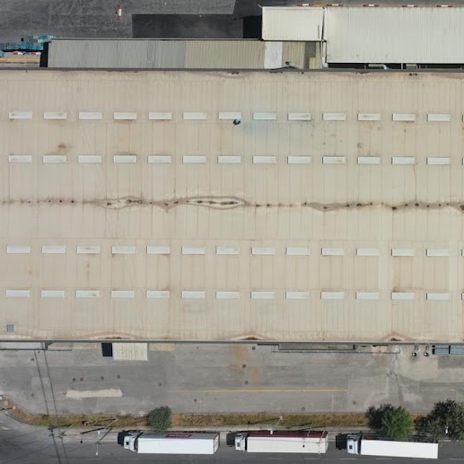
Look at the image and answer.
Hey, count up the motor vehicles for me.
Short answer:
3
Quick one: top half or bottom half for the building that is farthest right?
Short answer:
top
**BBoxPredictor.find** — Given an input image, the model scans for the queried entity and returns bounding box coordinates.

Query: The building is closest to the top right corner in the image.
[323,6,464,65]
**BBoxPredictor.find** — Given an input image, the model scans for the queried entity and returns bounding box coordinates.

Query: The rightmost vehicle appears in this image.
[342,431,439,458]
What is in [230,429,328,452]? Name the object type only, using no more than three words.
truck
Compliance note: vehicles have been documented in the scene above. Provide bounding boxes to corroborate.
[342,431,439,458]
[124,431,219,455]
[230,429,328,452]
